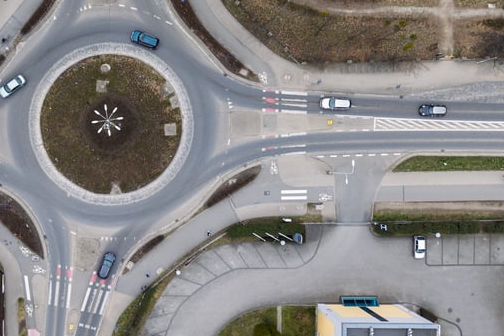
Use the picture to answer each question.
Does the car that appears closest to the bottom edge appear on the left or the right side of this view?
left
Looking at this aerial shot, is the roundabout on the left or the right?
left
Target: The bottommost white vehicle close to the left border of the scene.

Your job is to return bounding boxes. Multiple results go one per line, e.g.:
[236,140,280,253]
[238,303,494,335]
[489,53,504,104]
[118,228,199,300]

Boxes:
[0,72,26,98]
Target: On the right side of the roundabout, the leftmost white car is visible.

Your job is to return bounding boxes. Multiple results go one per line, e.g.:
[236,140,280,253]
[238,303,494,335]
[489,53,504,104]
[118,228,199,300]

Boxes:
[320,94,354,110]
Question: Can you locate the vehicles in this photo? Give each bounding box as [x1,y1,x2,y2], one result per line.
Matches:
[419,102,450,116]
[414,236,430,261]
[0,72,26,98]
[320,94,354,110]
[129,29,159,48]
[96,249,117,281]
